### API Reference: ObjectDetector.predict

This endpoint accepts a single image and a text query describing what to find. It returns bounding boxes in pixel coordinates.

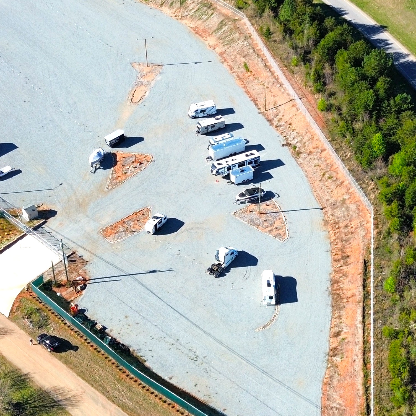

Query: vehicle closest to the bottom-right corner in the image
[207,249,241,276]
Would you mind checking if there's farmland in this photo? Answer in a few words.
No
